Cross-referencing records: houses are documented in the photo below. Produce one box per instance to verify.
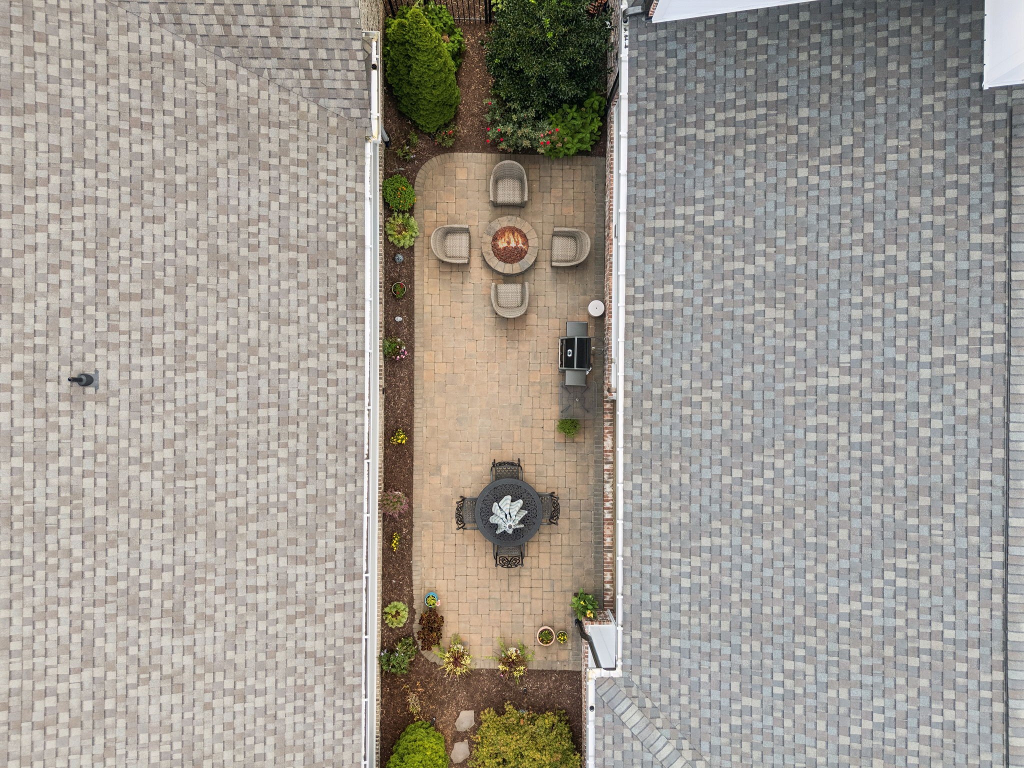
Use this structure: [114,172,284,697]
[573,0,1024,768]
[0,0,390,768]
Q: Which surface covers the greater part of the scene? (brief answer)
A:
buildings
